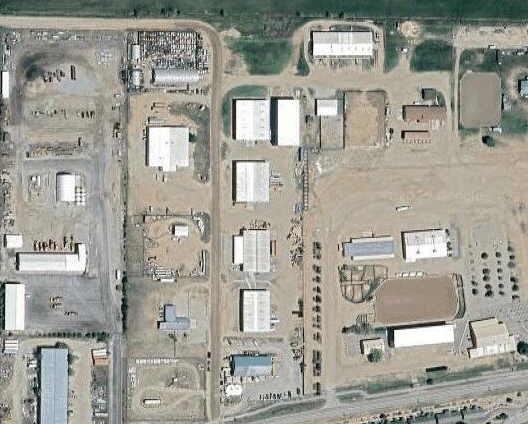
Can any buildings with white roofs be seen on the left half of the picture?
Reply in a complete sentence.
Yes, I can see a building with a white roof on the left half of the picture.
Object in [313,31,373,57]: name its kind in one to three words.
building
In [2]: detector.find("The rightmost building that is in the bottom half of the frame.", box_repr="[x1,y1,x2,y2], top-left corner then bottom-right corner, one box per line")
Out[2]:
[471,318,518,360]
